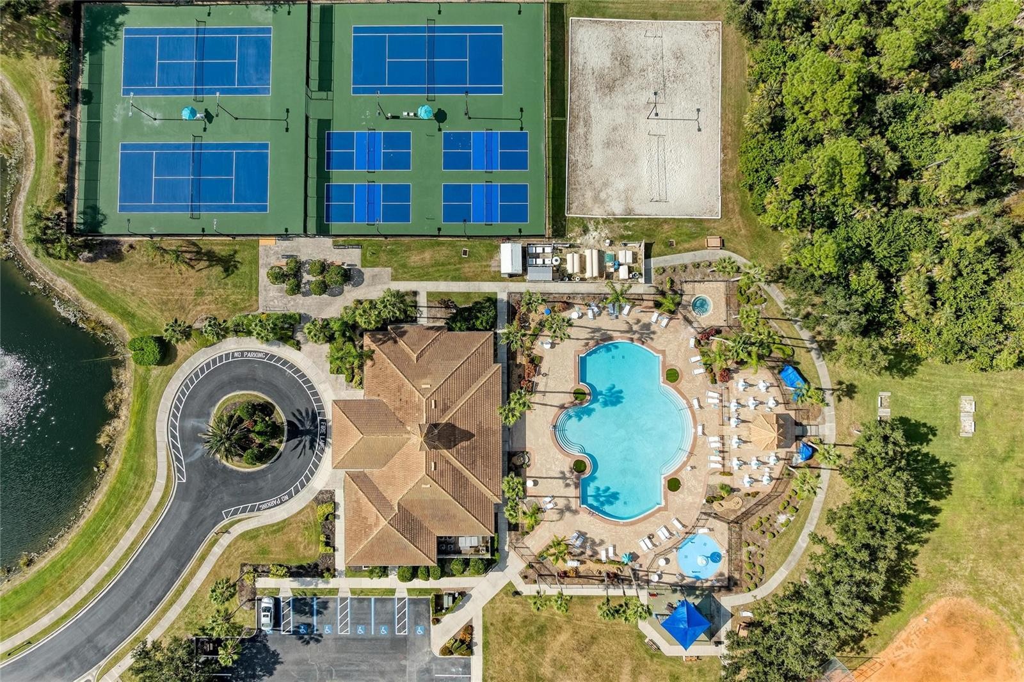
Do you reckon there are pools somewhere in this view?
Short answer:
Yes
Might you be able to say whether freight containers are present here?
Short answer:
No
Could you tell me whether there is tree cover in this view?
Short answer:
Yes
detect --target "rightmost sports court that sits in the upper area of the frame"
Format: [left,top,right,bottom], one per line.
[566,17,723,219]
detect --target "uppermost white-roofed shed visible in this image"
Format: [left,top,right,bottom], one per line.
[500,242,522,276]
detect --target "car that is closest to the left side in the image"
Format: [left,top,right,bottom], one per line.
[258,599,273,631]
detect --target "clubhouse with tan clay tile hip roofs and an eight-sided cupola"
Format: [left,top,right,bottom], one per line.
[332,325,502,570]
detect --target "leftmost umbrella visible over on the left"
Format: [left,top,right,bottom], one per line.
[183,107,198,121]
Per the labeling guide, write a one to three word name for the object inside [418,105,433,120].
umbrella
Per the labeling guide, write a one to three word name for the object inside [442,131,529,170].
sports court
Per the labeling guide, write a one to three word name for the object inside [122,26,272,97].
tennis court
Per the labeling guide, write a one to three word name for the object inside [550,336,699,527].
swimming pool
